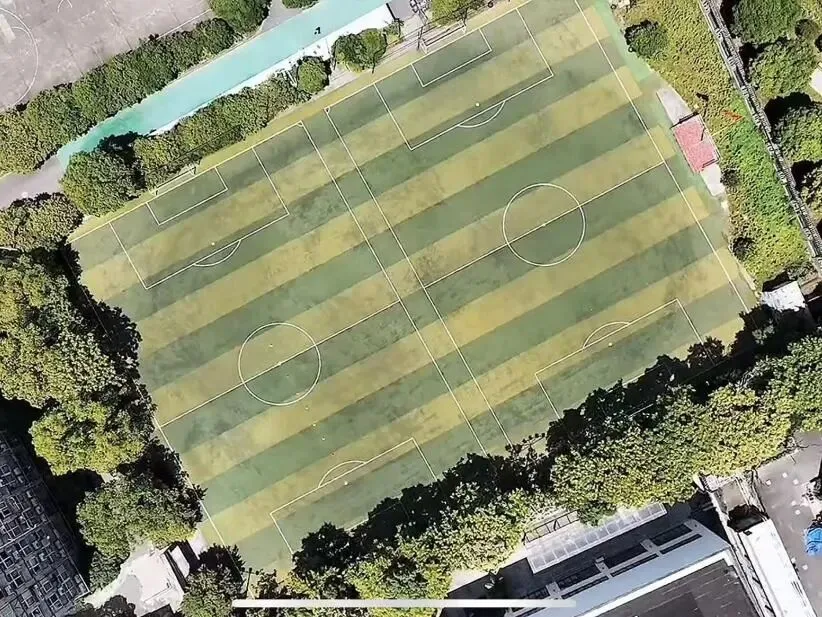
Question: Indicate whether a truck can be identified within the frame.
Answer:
No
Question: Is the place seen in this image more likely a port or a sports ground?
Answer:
sports ground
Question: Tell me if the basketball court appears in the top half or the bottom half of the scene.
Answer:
top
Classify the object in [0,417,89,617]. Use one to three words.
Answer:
building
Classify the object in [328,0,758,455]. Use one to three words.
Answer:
soccer field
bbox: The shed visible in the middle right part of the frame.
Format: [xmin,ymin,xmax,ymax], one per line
[753,280,808,320]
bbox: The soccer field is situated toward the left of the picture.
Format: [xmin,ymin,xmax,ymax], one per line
[64,124,491,604]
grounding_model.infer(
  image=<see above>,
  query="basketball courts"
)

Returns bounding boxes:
[0,0,229,122]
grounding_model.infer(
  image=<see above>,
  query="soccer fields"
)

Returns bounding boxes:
[64,124,491,604]
[328,0,758,455]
